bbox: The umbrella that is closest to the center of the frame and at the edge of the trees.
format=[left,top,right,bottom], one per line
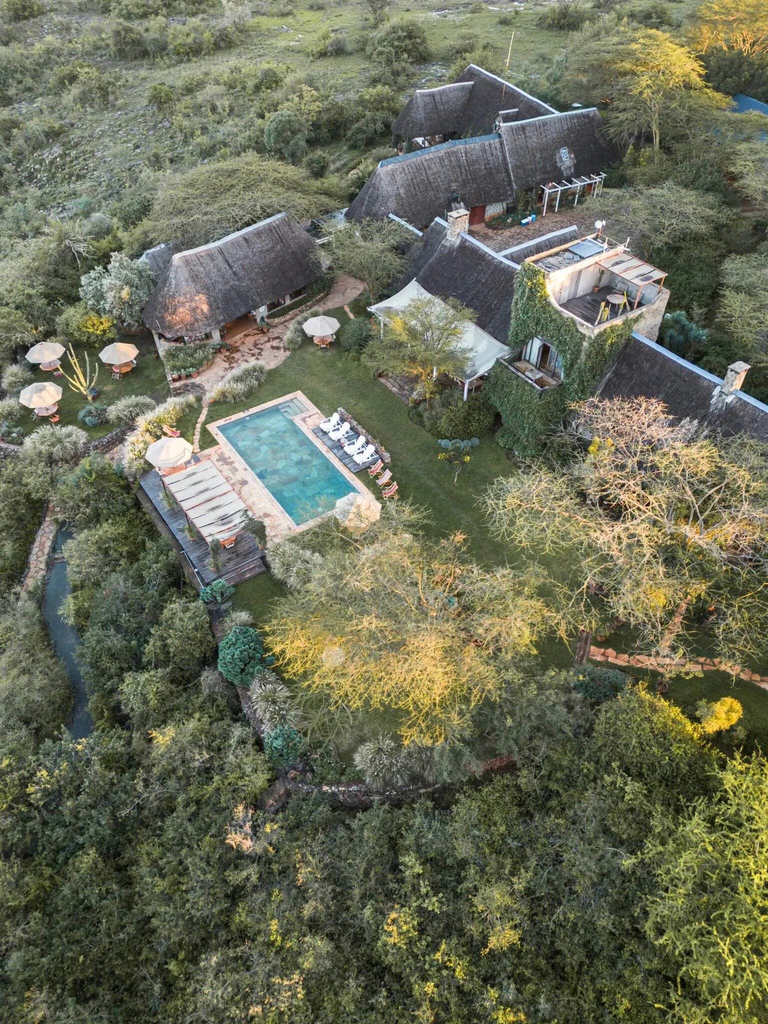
[334,498,382,534]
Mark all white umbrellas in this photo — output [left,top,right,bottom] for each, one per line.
[26,346,68,374]
[147,442,193,474]
[21,387,64,416]
[100,346,140,374]
[302,320,340,346]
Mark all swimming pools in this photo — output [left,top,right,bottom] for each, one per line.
[205,390,375,537]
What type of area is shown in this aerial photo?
residential area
